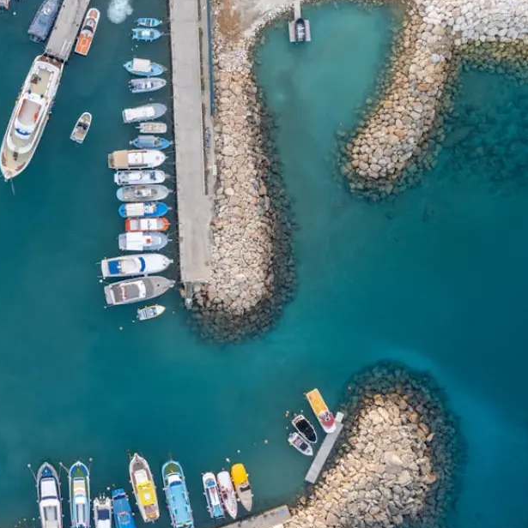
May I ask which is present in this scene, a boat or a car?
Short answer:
boat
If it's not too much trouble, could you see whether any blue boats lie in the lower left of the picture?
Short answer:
Yes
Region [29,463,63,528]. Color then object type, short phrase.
white boat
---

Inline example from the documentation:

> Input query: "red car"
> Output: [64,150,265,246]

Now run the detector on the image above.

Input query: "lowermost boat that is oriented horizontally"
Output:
[134,305,166,319]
